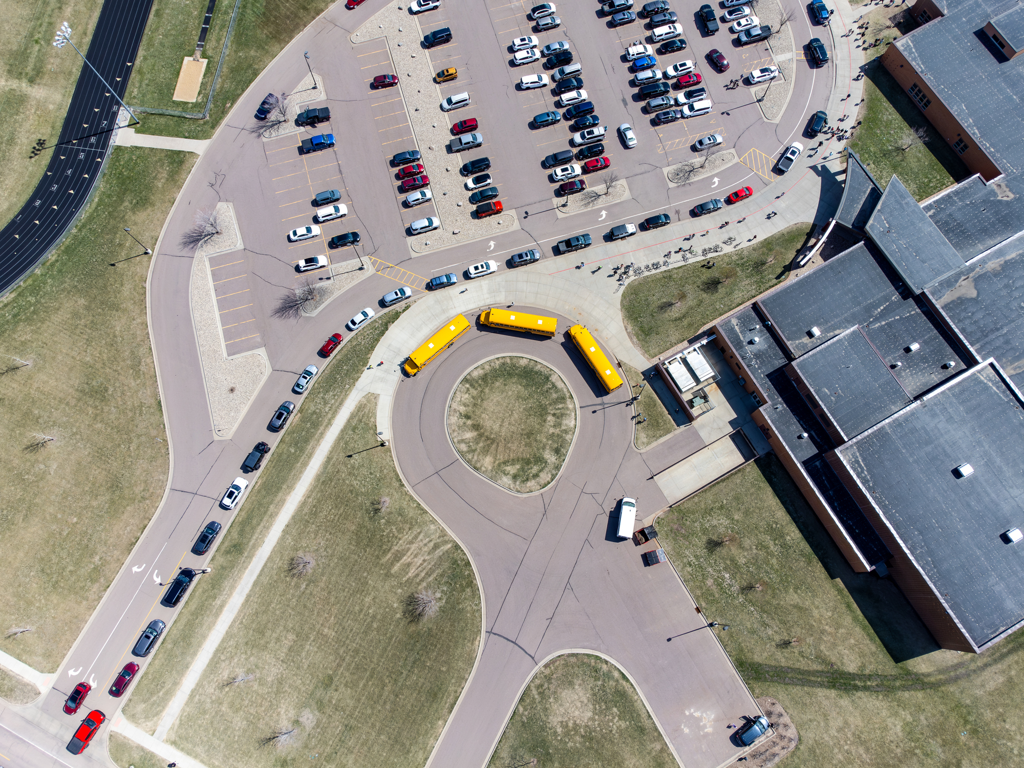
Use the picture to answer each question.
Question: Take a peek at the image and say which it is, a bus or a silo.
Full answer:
The image shows a bus.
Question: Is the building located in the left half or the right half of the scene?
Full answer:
It is on the right.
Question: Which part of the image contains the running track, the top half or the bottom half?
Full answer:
The running track is in the top half of the image.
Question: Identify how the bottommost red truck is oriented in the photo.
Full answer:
I'd say the bottommost red truck is aligned on a diagonal in the picture.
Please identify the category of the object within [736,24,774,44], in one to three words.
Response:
vehicle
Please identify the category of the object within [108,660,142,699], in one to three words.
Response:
car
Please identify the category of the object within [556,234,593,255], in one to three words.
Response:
truck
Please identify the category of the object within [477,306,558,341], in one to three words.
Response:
bus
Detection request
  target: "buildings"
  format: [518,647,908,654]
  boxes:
[708,0,1024,654]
